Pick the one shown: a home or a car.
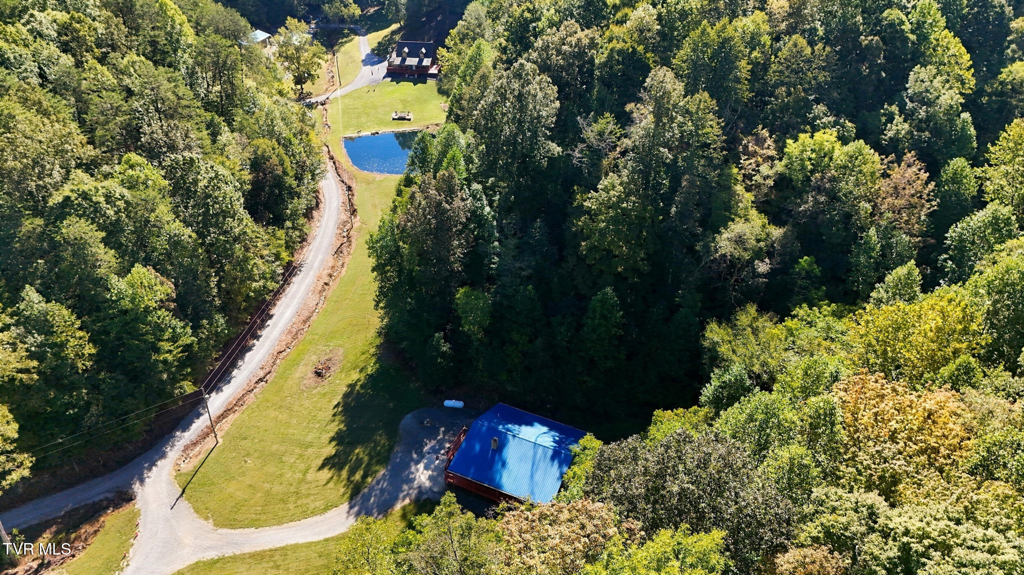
home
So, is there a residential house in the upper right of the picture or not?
No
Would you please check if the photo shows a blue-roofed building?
Yes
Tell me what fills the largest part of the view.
trees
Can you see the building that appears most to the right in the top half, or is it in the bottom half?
bottom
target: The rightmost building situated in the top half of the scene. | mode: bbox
[387,40,441,79]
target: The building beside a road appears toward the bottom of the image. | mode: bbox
[434,403,589,531]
